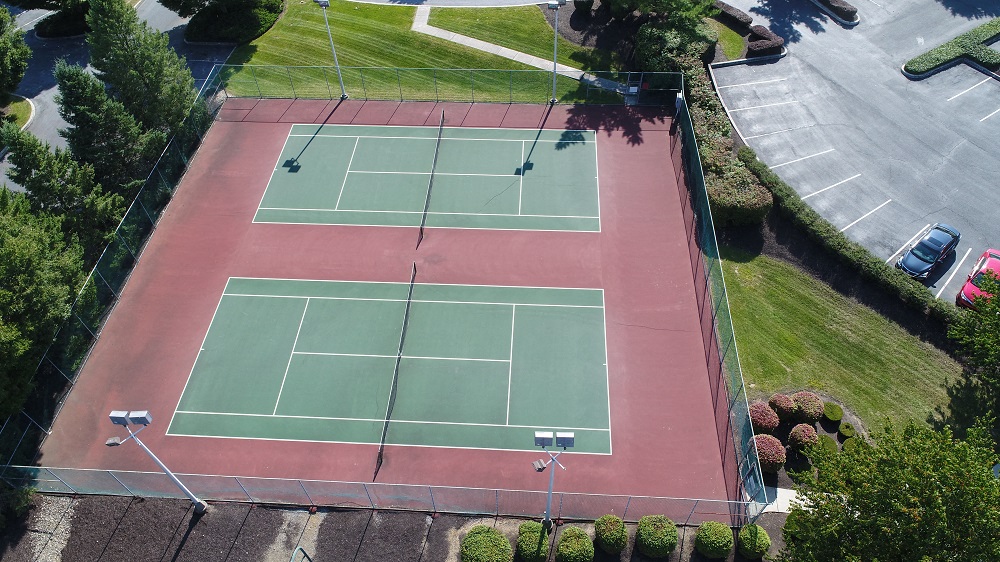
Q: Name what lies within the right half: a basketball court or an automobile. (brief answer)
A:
automobile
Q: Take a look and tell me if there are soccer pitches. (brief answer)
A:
No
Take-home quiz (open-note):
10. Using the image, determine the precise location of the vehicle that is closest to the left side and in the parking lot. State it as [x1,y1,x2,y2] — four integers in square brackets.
[899,224,962,280]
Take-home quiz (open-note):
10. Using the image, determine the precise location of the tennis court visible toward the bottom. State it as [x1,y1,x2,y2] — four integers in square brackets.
[166,278,612,454]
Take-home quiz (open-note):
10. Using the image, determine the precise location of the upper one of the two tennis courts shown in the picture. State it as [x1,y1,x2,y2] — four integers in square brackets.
[253,124,601,233]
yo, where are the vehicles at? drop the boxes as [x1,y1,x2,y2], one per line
[950,251,1000,308]
[899,224,962,280]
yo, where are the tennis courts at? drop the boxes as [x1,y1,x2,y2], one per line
[253,124,601,233]
[166,278,612,454]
